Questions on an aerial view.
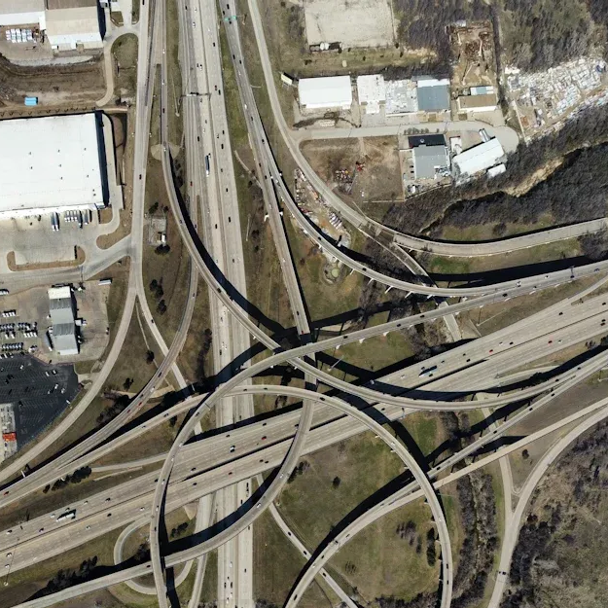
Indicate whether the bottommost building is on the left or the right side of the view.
left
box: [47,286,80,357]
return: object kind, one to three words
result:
building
